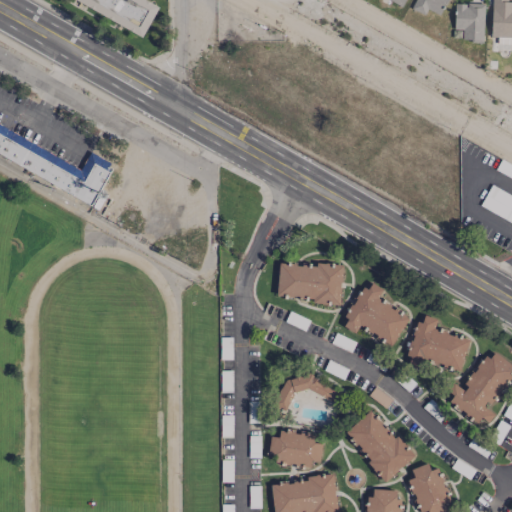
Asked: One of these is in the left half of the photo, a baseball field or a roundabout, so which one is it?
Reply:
baseball field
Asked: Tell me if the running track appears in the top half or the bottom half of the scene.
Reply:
bottom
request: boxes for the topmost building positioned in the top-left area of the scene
[79,0,160,38]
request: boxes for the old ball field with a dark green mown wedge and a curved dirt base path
[8,210,57,294]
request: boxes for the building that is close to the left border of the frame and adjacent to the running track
[0,124,112,205]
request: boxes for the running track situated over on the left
[25,247,183,512]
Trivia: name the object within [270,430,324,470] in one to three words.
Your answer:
building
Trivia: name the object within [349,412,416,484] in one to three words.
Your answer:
building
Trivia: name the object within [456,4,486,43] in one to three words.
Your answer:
house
